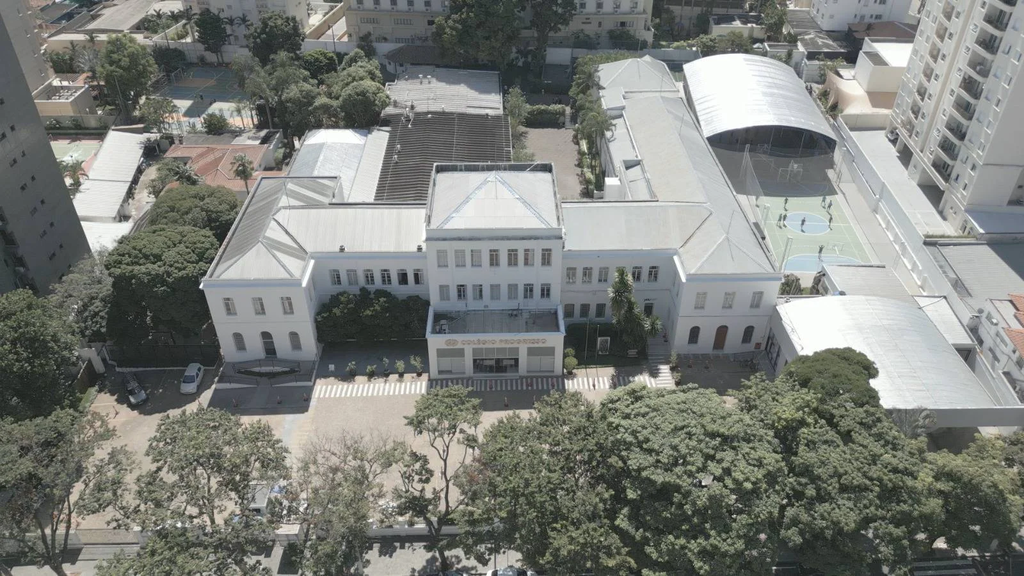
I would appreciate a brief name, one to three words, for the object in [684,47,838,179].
building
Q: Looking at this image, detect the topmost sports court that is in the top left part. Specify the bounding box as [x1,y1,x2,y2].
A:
[154,65,256,129]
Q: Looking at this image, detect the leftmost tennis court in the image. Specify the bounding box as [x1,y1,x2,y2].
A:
[52,142,107,163]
